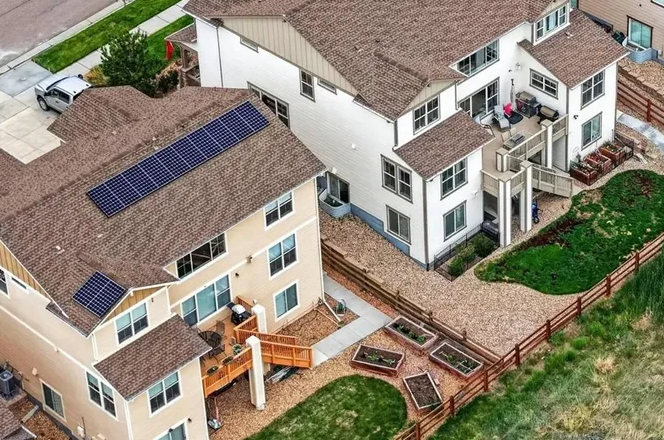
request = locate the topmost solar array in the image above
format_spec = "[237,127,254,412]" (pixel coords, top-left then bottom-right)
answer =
[88,101,269,214]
